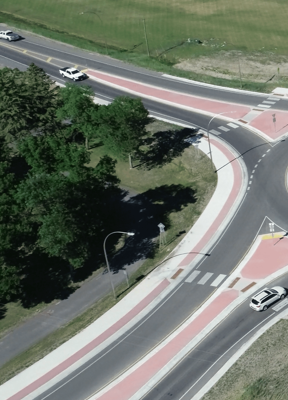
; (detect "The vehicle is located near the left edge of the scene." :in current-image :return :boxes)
[0,30,19,42]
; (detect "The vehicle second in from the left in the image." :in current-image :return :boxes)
[59,68,85,81]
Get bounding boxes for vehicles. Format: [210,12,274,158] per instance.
[249,285,288,311]
[0,30,19,42]
[59,68,85,81]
